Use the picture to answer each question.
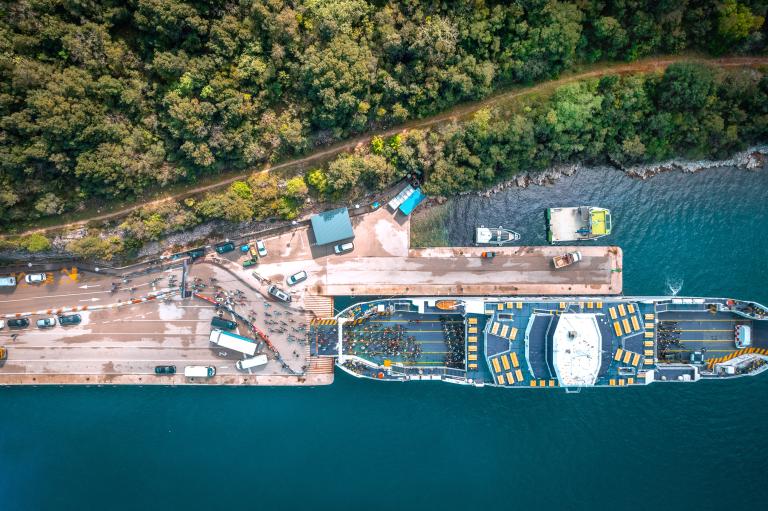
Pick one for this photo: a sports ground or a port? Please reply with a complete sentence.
The area seen from above is a port.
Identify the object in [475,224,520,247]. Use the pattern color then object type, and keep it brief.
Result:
white boat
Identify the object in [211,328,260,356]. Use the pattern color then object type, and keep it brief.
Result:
white truck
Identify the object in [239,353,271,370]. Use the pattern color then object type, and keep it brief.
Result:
white vehicle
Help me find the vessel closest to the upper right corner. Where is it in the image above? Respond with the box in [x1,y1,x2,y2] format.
[548,207,612,243]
